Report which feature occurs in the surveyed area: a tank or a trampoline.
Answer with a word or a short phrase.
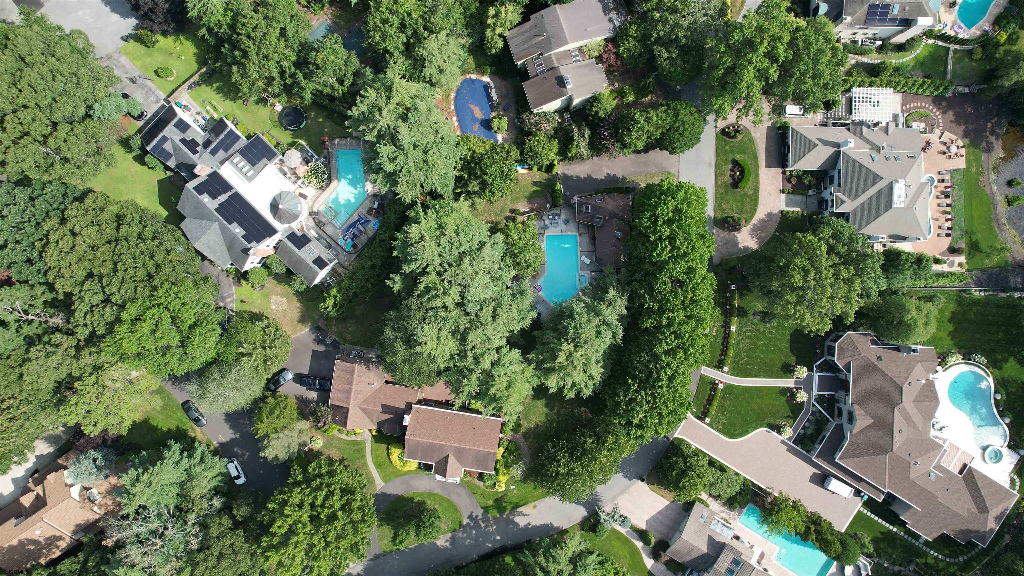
trampoline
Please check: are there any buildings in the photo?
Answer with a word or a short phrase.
Yes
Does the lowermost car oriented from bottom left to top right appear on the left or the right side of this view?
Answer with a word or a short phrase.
left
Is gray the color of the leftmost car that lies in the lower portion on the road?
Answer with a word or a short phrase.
Yes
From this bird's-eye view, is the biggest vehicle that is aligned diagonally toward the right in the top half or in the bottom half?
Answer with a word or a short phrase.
bottom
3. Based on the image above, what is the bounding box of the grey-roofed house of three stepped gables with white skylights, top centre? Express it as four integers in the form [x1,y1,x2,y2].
[506,0,623,114]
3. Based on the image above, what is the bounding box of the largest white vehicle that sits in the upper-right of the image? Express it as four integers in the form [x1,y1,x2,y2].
[779,104,812,120]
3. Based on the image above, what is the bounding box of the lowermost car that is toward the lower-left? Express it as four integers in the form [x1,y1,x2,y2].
[225,456,249,486]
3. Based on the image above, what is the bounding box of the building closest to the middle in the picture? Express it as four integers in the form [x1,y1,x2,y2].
[575,193,633,269]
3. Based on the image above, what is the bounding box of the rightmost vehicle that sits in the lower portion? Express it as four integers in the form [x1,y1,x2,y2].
[818,472,853,498]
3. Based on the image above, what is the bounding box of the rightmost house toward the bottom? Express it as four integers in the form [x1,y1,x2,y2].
[806,331,1020,548]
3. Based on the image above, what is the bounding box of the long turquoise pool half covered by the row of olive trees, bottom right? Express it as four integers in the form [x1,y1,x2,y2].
[737,503,836,576]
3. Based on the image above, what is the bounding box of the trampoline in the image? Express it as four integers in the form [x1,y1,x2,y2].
[278,101,307,130]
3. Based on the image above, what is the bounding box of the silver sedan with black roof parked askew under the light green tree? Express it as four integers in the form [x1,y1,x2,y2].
[265,366,297,393]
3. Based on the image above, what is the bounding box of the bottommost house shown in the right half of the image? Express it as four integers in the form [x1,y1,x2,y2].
[664,497,777,576]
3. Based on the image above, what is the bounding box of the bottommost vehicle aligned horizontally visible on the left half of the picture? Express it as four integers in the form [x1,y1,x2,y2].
[298,376,332,393]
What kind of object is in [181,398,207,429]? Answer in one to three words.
car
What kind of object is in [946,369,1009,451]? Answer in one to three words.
swimming pool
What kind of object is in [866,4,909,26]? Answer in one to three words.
solar array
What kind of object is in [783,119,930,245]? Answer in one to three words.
house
